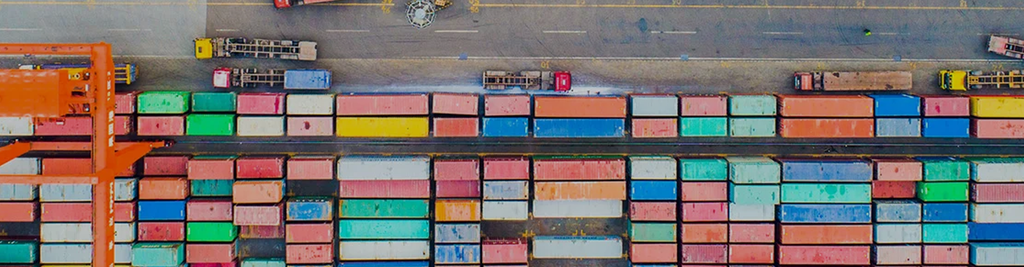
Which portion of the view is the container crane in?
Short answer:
left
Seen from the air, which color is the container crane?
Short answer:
orange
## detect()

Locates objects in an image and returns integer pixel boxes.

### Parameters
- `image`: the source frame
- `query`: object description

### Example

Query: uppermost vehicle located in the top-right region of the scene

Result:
[988,34,1024,57]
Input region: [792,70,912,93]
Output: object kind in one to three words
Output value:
truck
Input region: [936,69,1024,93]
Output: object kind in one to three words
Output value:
truck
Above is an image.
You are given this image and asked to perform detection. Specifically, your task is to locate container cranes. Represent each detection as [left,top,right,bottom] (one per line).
[0,40,177,267]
